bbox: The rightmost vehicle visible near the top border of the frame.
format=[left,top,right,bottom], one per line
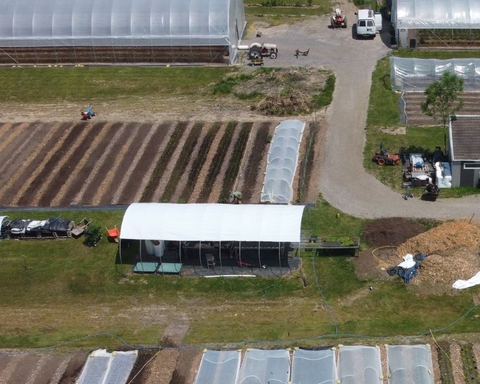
[357,8,387,36]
